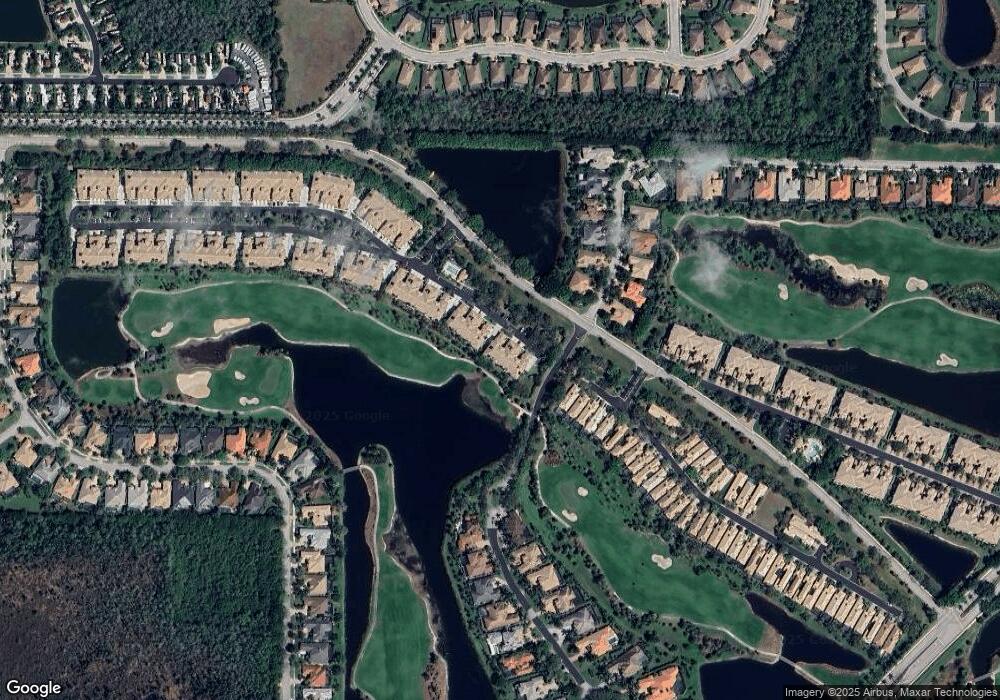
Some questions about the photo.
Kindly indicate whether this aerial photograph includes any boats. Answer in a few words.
No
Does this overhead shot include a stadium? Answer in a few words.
No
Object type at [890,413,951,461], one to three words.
building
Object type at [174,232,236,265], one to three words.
building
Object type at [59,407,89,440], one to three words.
house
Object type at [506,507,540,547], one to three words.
house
